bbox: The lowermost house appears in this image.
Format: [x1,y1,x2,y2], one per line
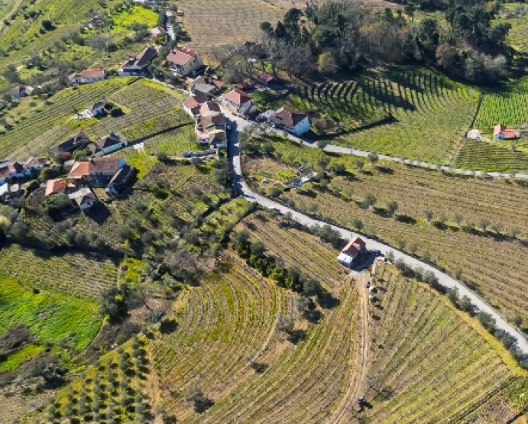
[333,235,372,269]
